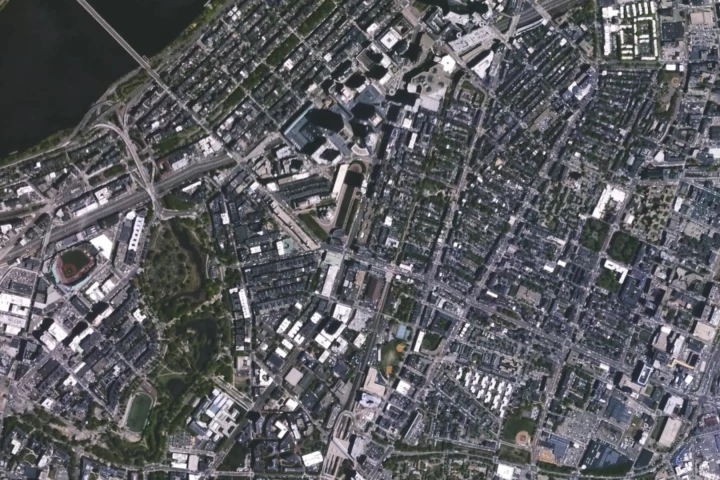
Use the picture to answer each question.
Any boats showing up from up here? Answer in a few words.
No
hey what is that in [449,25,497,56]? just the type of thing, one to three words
building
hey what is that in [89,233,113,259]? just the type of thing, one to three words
building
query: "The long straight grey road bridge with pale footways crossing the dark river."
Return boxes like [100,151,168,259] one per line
[76,0,159,81]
